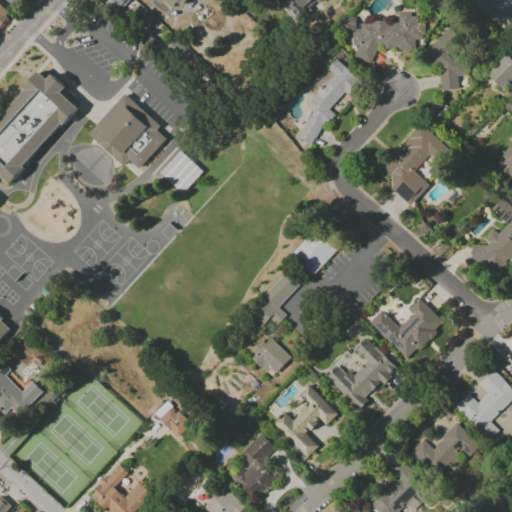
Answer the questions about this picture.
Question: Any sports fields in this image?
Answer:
Yes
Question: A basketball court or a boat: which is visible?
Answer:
basketball court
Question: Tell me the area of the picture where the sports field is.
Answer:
center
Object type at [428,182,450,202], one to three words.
swimming pool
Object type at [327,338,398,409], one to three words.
house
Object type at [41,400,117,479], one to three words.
tennis court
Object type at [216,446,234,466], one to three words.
swimming pool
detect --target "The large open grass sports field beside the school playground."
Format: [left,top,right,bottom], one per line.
[112,133,308,370]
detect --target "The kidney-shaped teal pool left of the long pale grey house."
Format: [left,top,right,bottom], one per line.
[289,93,305,120]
